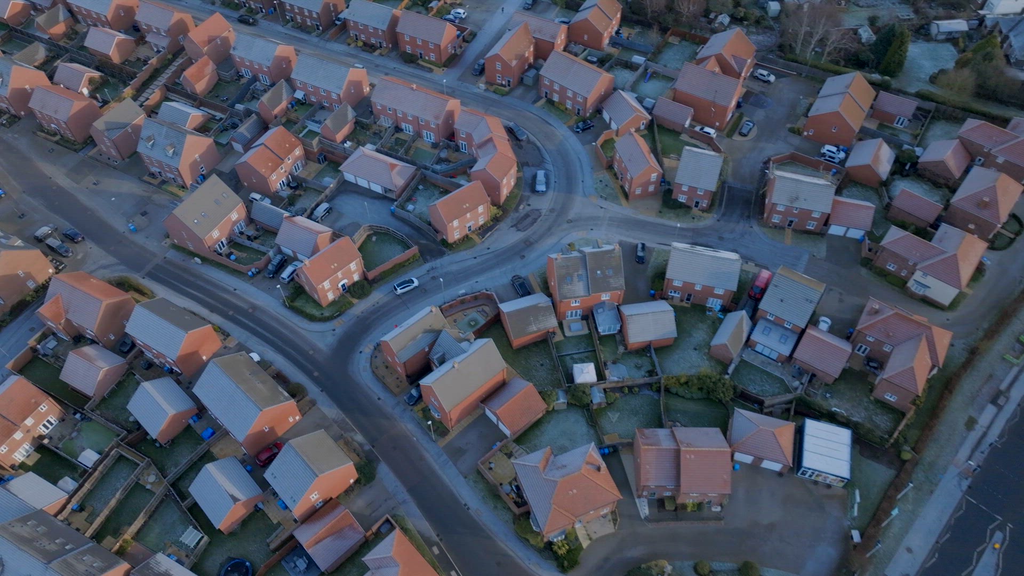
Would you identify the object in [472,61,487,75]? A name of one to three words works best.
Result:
car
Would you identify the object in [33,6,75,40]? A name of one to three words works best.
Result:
building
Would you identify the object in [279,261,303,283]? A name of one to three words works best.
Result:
car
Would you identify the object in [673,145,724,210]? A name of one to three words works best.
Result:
house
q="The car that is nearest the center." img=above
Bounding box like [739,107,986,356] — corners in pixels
[511,273,531,294]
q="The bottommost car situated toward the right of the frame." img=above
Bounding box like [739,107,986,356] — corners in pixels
[817,314,832,335]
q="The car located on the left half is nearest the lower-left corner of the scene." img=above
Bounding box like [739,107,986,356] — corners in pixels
[116,333,135,356]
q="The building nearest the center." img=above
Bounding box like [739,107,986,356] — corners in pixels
[497,292,558,348]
